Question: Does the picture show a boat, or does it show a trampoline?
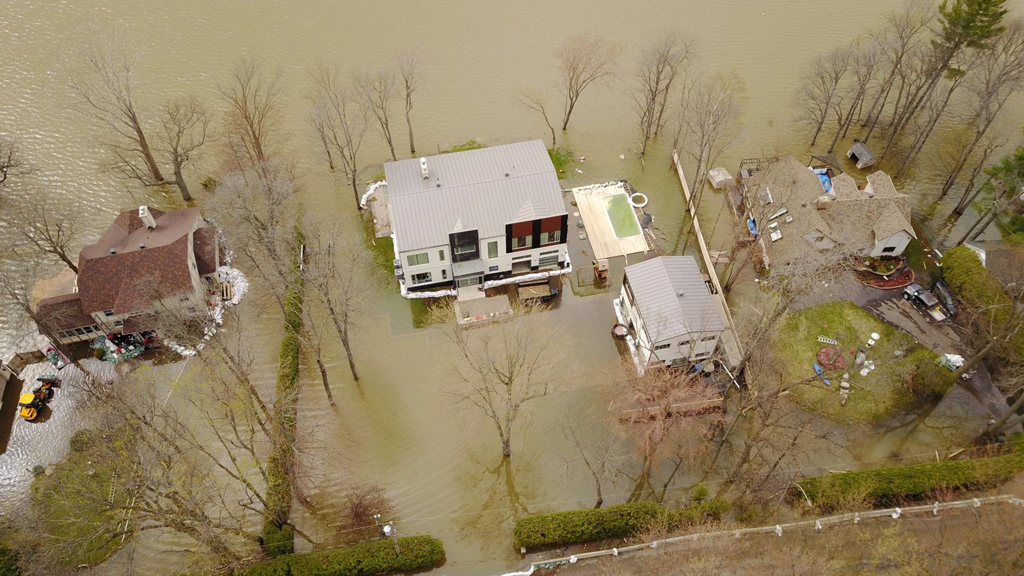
boat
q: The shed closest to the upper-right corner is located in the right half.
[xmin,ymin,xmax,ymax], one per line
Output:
[848,143,881,171]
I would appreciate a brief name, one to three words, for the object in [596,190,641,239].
swimming pool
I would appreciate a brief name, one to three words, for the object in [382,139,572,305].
house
